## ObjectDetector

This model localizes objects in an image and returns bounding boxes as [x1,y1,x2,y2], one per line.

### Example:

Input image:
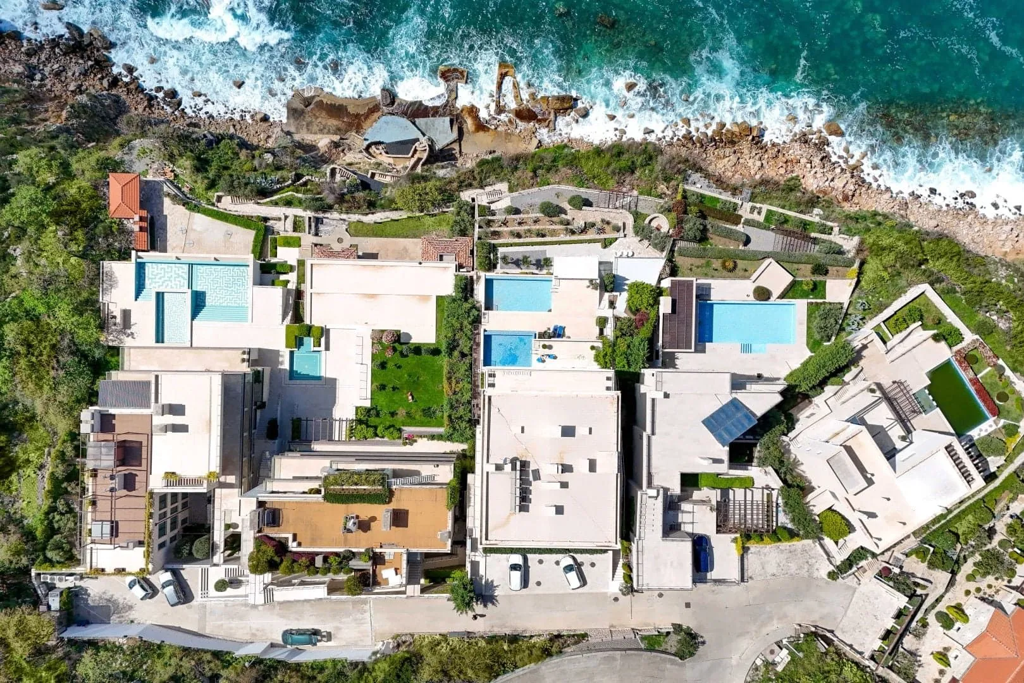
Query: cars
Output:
[693,533,712,573]
[158,566,186,609]
[282,626,322,647]
[127,574,157,604]
[507,553,525,590]
[560,553,583,592]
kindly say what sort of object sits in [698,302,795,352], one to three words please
swimming pool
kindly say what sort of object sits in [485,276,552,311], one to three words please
swimming pool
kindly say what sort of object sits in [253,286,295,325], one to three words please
building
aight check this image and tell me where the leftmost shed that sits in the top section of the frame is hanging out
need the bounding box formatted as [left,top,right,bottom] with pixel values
[108,172,155,252]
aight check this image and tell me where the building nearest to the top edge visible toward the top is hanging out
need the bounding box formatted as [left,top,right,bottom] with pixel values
[364,116,462,174]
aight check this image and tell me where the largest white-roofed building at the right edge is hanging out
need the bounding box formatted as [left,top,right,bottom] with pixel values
[784,386,987,559]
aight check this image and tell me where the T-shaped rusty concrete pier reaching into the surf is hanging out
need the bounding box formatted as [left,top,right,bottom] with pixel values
[439,65,469,114]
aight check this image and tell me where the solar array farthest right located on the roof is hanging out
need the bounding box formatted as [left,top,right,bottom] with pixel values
[700,397,758,447]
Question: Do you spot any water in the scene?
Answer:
Yes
